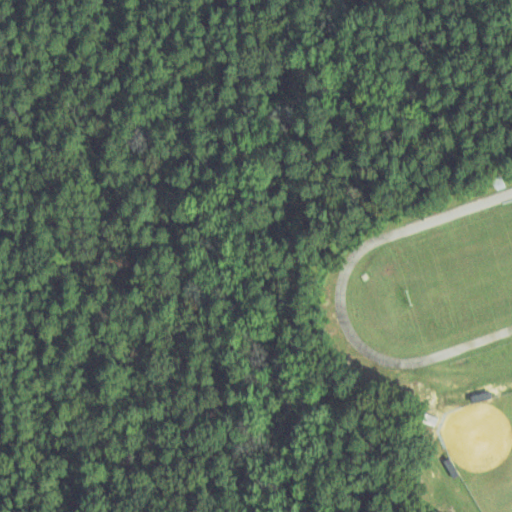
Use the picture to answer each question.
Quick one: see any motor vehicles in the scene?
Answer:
No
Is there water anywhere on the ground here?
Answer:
No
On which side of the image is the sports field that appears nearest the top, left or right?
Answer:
right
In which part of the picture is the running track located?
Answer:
right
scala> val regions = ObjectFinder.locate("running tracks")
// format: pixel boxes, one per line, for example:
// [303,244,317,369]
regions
[336,190,512,371]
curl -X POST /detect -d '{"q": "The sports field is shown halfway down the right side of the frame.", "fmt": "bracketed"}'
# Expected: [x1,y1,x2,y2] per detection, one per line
[345,204,512,360]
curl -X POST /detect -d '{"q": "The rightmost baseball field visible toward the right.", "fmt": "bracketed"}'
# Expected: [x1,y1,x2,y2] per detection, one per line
[440,390,512,512]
